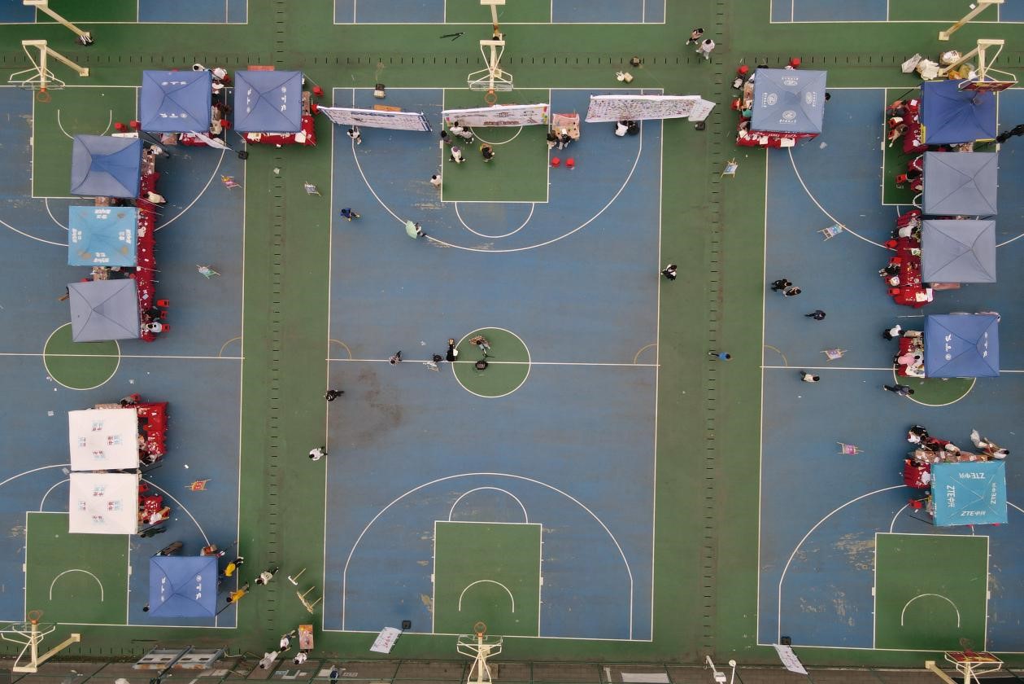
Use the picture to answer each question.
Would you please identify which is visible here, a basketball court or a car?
basketball court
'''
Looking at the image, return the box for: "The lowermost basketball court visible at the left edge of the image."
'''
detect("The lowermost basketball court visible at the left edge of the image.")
[0,86,247,627]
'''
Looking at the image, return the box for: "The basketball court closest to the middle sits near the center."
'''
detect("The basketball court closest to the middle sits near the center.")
[323,80,663,642]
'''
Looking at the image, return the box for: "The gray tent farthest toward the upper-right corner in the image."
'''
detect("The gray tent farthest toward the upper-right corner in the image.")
[897,152,997,221]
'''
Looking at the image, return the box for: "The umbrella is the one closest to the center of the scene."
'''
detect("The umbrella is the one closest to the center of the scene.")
[404,217,419,243]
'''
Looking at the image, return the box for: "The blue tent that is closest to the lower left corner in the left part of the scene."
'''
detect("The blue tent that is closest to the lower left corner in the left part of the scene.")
[149,542,239,616]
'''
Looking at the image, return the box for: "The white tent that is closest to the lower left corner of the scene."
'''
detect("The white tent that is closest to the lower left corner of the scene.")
[69,465,164,534]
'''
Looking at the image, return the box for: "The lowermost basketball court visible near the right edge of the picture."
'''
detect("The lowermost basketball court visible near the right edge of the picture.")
[756,90,1024,654]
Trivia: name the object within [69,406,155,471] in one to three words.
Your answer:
tent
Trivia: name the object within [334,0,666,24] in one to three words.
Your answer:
basketball court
